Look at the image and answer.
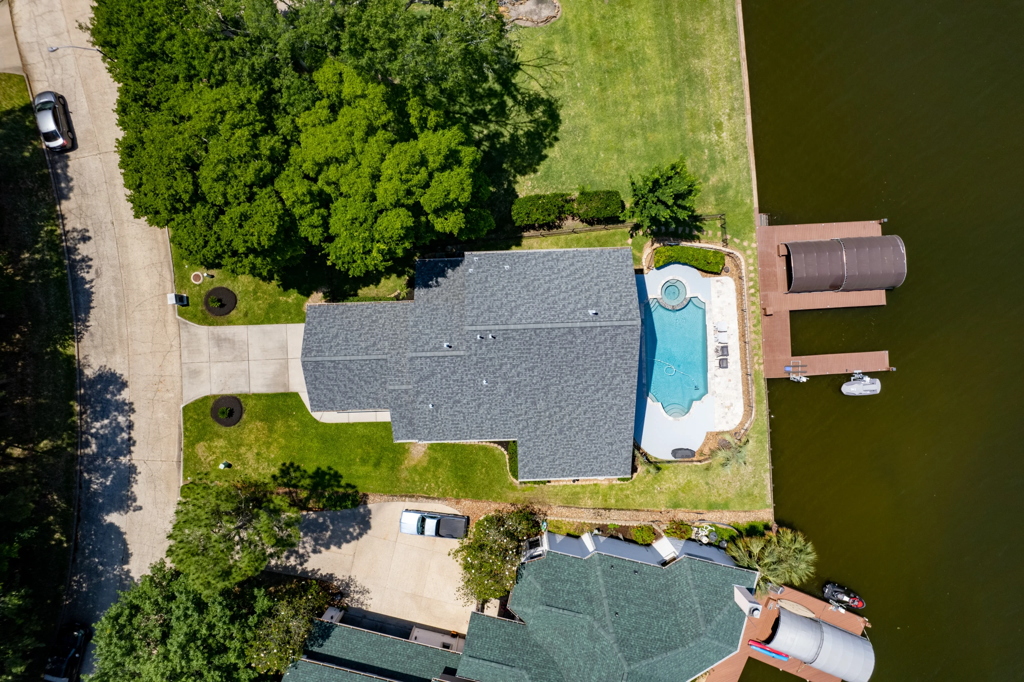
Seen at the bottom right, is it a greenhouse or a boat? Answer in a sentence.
It is a boat that can be seen at the bottom right.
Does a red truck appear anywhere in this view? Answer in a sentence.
No, there's no red truck here.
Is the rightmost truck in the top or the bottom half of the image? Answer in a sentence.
You can find the rightmost truck in the bottom half.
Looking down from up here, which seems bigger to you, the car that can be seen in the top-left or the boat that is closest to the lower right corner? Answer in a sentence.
The car is bigger than the boat.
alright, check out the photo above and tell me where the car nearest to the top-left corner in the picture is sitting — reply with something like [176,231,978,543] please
[31,88,71,152]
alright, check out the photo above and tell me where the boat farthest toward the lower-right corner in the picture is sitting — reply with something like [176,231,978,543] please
[825,584,867,612]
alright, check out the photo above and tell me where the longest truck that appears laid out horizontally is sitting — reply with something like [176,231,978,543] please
[394,510,471,543]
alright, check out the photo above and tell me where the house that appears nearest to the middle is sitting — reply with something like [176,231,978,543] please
[301,245,641,482]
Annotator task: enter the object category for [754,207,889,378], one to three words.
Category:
pier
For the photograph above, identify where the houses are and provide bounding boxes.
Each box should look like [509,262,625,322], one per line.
[301,245,641,482]
[281,529,762,682]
